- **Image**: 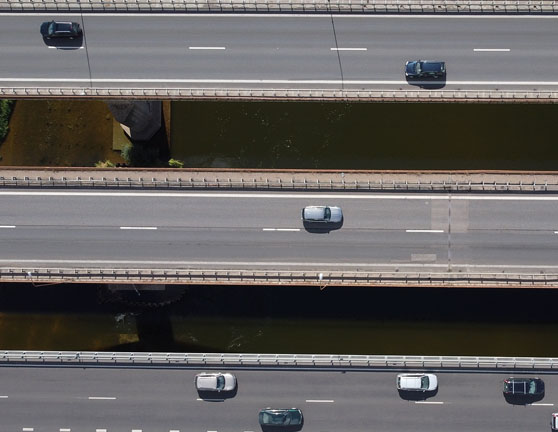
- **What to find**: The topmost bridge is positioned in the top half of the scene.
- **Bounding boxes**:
[0,0,558,141]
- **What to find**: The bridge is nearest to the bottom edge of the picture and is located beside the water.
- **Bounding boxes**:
[0,349,558,432]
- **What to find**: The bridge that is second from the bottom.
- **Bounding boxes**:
[0,166,558,289]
